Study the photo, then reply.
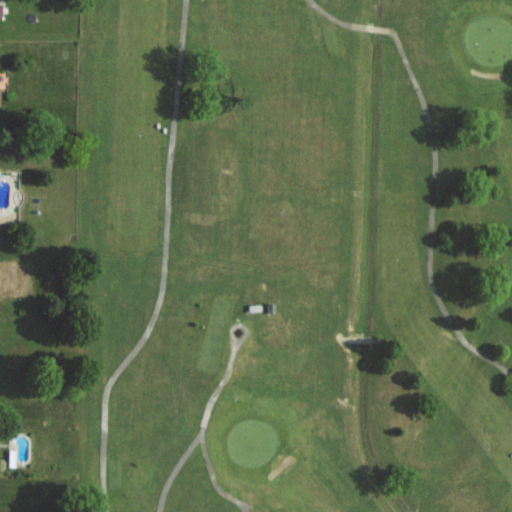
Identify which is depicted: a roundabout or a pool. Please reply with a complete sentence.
Looking from above, you can make out a pool.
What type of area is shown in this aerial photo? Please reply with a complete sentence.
This image shows a golf course.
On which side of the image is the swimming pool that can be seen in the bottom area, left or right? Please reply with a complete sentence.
You can find the swimming pool that can be seen in the bottom area on the left side of the picture.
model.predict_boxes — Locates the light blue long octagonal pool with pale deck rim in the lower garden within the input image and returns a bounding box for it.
[9,435,30,467]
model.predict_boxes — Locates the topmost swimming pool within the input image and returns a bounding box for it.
[0,172,23,226]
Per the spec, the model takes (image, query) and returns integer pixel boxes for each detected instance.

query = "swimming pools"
[0,172,23,226]
[9,435,30,467]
